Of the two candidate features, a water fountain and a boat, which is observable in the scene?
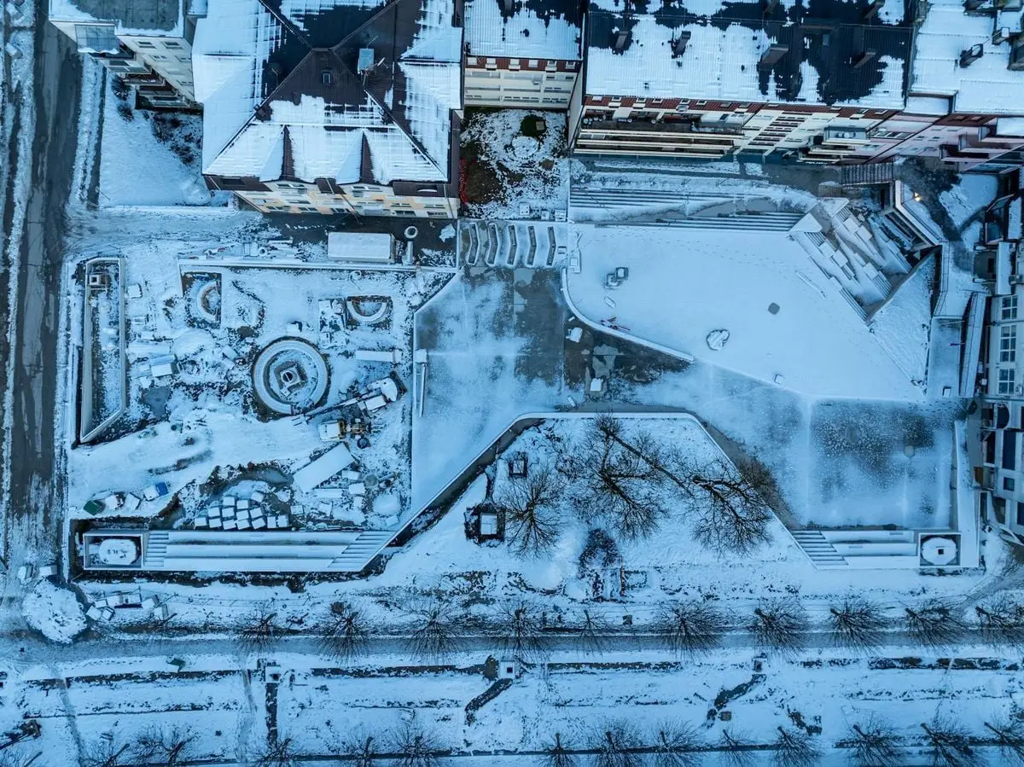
water fountain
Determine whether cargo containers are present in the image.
Yes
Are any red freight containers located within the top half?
No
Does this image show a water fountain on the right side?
No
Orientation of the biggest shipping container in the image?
from side to side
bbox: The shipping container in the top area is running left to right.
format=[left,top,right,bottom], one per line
[326,232,397,265]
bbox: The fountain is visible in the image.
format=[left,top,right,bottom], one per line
[252,338,331,417]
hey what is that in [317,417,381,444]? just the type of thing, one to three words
work vehicle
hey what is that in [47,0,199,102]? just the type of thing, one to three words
building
